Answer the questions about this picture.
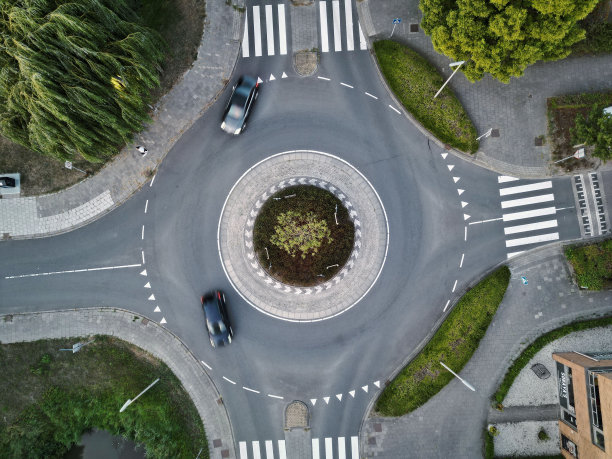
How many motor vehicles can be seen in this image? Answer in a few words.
2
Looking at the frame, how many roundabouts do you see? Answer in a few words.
1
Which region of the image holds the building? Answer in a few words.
bottom right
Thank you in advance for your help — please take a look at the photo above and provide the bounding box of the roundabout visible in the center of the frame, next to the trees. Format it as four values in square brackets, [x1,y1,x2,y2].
[145,82,461,397]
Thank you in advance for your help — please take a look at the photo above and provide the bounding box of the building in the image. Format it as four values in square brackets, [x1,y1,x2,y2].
[553,353,612,459]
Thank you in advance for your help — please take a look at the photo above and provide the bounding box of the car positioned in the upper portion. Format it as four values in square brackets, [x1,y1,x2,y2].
[222,78,258,136]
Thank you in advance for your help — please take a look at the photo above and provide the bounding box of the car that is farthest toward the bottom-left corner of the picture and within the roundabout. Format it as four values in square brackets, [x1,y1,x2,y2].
[200,290,232,347]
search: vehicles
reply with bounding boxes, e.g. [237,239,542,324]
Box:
[222,78,258,136]
[200,290,232,347]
